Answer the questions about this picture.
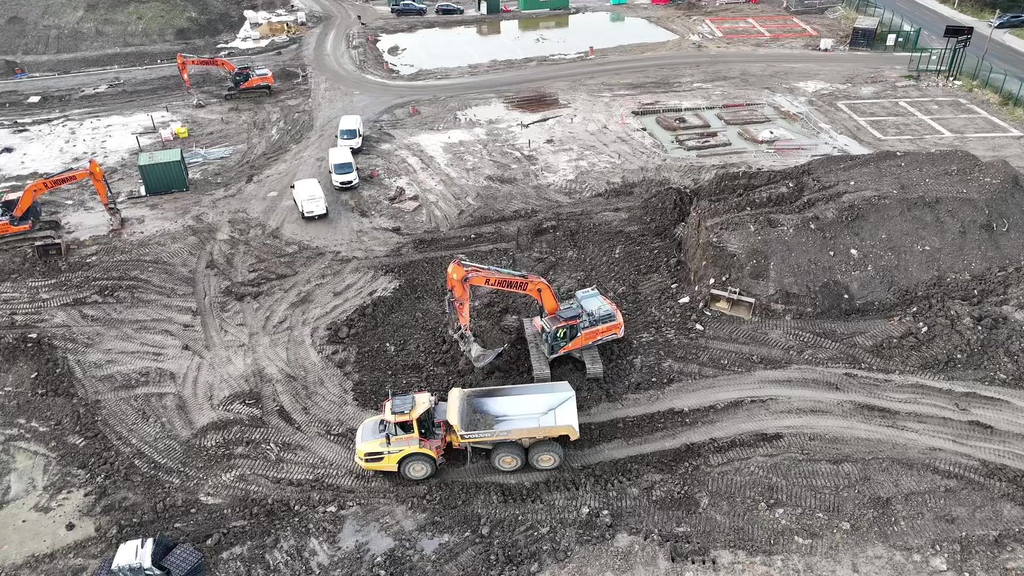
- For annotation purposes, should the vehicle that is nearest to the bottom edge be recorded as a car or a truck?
truck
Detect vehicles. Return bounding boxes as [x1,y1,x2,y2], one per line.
[441,258,620,386]
[337,112,364,147]
[174,49,280,103]
[392,0,428,15]
[989,14,1024,27]
[435,2,464,15]
[294,181,330,220]
[356,387,582,483]
[0,154,117,247]
[328,144,356,185]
